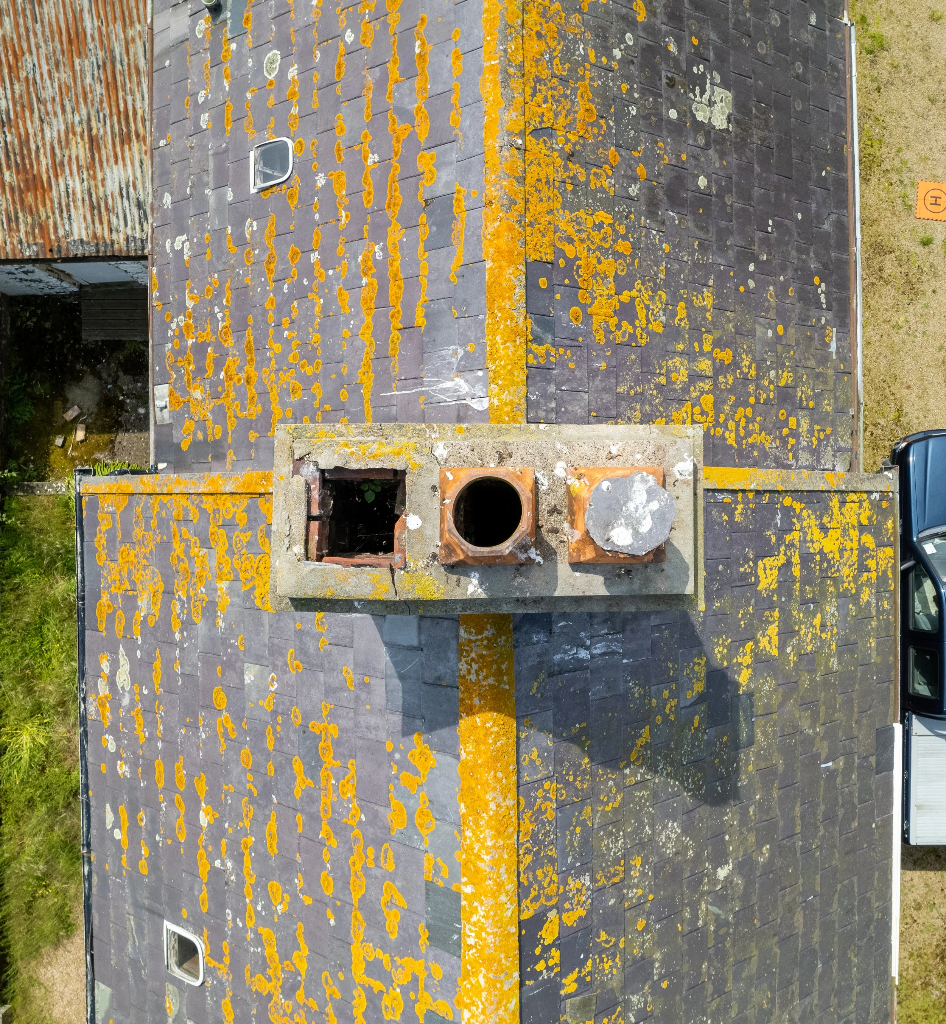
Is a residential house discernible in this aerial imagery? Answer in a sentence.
Yes, I can see a residential house in this picture.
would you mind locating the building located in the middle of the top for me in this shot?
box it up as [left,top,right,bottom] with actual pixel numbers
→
[106,0,868,477]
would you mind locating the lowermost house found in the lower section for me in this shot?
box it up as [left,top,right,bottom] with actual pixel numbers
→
[75,465,902,1024]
